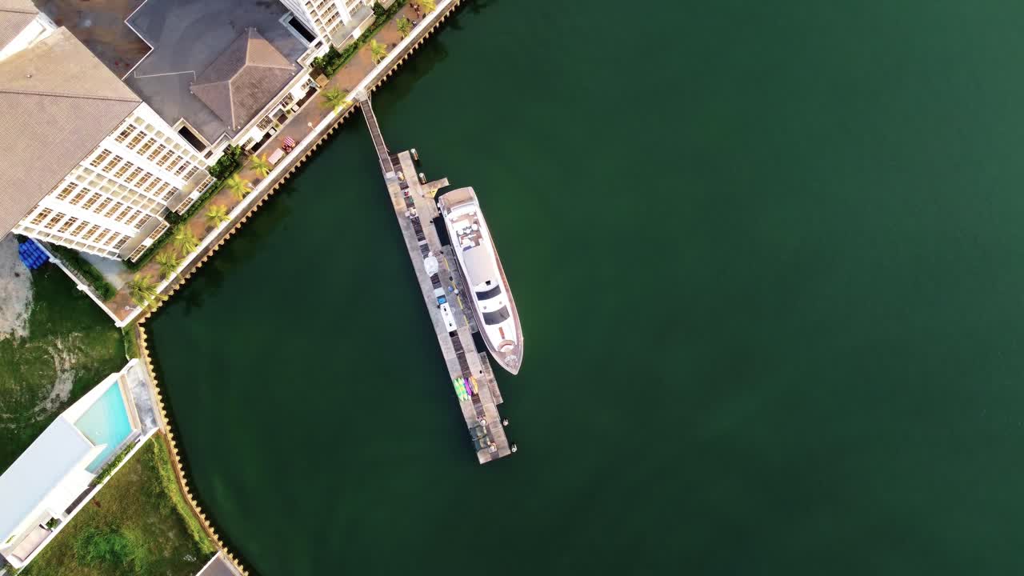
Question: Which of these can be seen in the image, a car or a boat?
boat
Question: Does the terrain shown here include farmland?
No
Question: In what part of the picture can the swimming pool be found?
bottom left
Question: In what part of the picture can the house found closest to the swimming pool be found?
bottom left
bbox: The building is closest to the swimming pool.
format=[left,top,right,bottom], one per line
[0,413,109,570]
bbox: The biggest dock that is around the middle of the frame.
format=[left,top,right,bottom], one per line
[381,150,512,464]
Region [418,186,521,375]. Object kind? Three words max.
boat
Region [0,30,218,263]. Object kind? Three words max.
building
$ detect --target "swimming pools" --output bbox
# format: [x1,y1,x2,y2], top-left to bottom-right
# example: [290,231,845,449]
[82,375,145,477]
